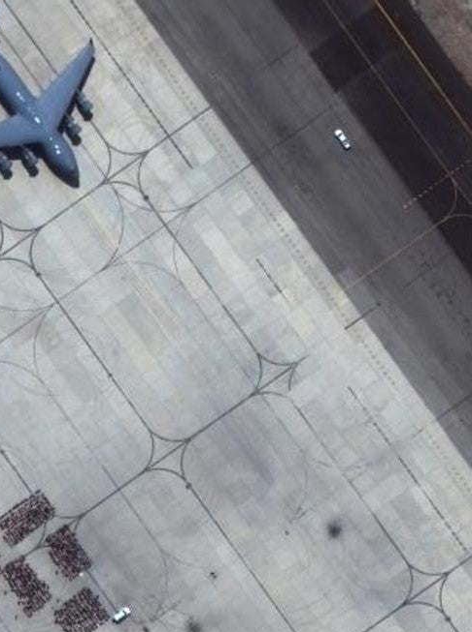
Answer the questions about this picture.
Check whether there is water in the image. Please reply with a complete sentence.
No, water can't be seen anywhere here.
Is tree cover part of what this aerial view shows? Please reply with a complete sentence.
No, the picture contains no tree cover.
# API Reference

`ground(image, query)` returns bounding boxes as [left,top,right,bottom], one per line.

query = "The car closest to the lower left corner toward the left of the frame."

[111,607,130,621]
